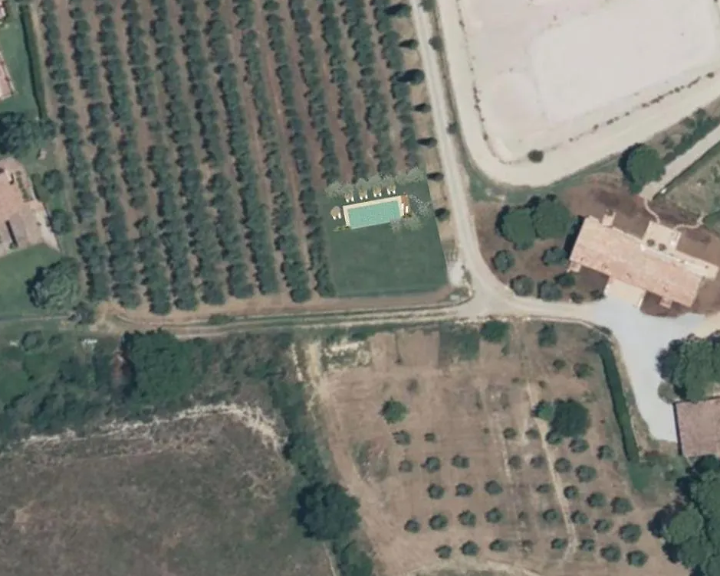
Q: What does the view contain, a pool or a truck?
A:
pool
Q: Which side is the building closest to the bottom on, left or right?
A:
right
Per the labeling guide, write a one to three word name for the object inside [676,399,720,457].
building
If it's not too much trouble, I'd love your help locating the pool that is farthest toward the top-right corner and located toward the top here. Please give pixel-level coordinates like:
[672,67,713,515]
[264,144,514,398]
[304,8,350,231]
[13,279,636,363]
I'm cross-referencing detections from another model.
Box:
[343,195,405,230]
